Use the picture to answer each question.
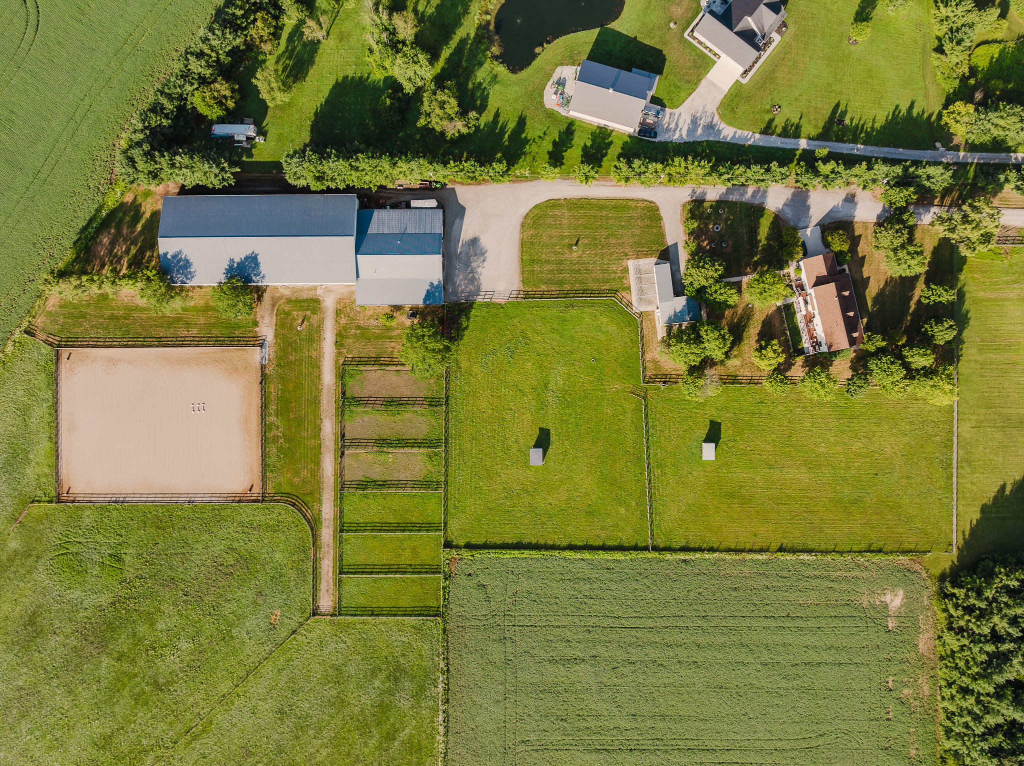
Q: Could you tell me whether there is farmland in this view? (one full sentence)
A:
Yes, there's farmland in this view.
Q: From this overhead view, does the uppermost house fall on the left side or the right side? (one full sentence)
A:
The uppermost house is on the right side of the image.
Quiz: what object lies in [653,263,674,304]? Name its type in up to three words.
building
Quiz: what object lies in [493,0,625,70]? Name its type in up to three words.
pond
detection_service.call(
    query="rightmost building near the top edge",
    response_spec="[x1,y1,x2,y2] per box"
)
[693,0,787,71]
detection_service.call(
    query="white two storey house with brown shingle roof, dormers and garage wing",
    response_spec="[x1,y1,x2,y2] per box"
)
[797,253,864,352]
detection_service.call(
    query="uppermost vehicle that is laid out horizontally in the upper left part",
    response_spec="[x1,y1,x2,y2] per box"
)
[212,124,260,137]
